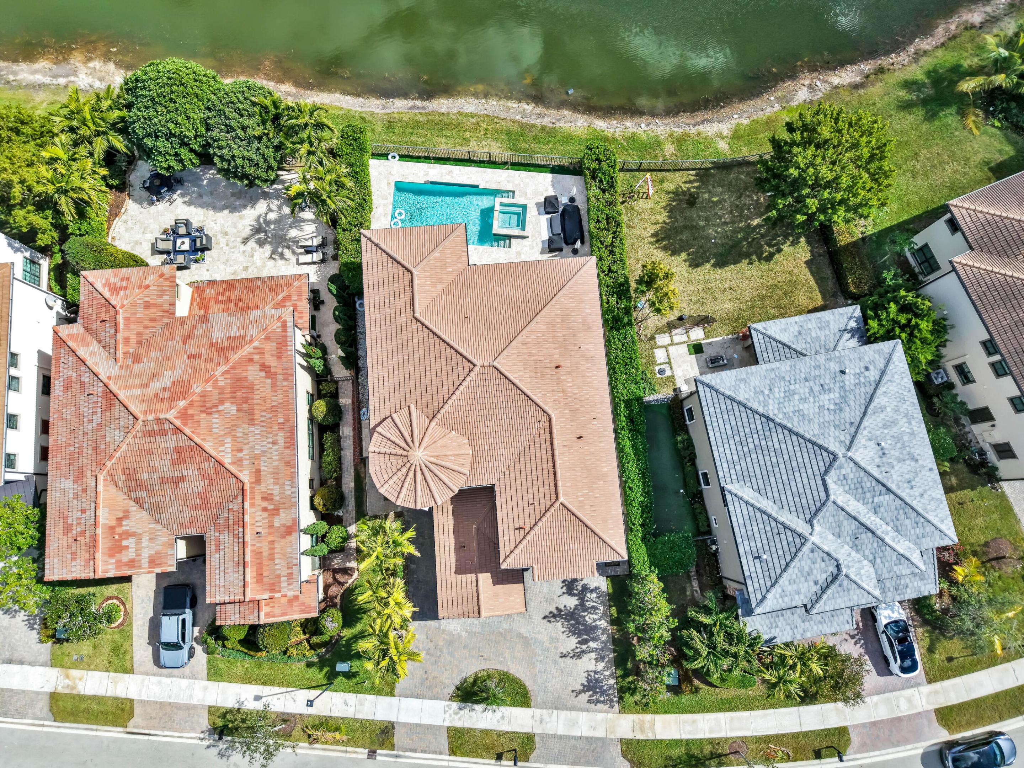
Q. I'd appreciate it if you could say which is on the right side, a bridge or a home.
home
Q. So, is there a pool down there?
Yes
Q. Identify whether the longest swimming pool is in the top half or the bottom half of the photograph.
top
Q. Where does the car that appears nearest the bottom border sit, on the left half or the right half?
right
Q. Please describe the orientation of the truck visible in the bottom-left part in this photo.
up and down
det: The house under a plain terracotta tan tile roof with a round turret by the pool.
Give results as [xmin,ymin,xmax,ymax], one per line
[359,221,628,618]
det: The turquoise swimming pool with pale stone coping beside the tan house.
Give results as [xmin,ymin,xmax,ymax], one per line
[386,177,515,251]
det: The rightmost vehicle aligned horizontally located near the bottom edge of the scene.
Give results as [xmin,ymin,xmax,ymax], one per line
[935,733,1020,768]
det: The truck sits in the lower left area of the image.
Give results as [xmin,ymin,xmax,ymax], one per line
[155,583,199,669]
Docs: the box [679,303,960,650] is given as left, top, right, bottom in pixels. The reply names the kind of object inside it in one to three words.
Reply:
house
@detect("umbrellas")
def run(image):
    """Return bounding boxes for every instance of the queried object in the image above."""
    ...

[568,185,578,205]
[570,239,581,256]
